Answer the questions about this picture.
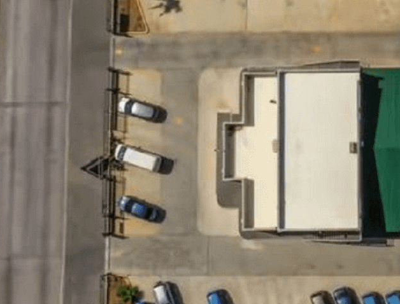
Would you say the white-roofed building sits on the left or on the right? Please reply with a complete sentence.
It is on the right.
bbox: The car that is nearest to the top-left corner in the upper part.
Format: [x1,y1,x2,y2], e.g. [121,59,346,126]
[118,98,164,123]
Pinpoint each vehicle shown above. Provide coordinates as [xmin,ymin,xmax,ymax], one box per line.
[154,283,176,304]
[117,196,162,222]
[336,285,357,304]
[118,98,164,123]
[208,290,228,304]
[113,145,161,173]
[386,290,400,304]
[313,290,332,304]
[362,291,381,304]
